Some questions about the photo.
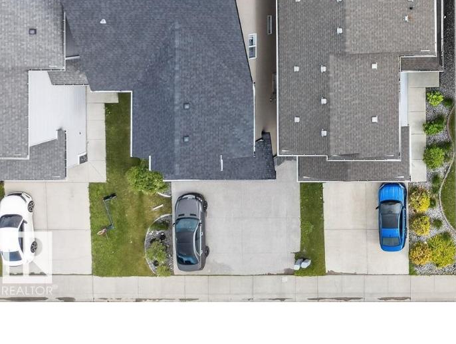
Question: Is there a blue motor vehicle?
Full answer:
Yes, there is a blue motor vehicle in the image.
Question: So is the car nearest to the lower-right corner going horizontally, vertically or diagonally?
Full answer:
The car nearest to the lower-right corner is oriented vertically.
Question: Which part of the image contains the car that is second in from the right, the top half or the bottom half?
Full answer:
The car that is second in from the right is in the bottom half of the image.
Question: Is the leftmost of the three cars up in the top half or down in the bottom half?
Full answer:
The leftmost of the three cars is in the bottom half of the image.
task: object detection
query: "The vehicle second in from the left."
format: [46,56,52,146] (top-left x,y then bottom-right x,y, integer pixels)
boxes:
[170,190,210,270]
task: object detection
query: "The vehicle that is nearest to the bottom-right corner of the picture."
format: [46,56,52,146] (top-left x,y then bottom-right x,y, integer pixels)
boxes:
[374,181,409,252]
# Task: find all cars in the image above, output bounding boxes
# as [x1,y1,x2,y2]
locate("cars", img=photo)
[170,190,210,270]
[0,189,39,266]
[374,181,409,252]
